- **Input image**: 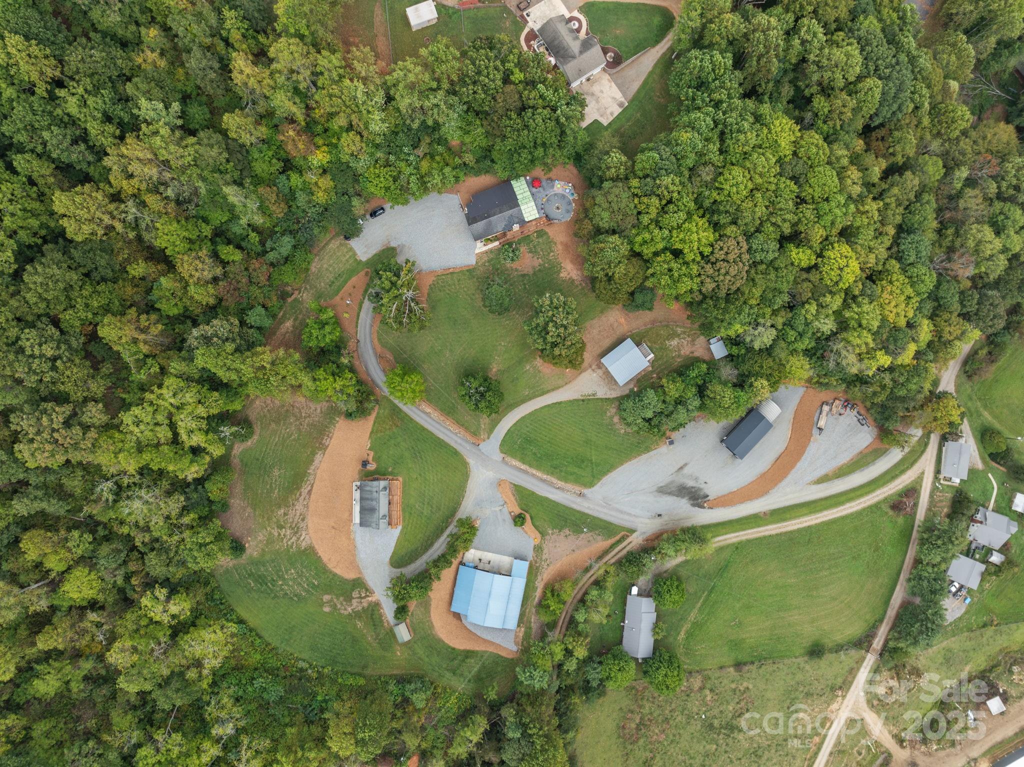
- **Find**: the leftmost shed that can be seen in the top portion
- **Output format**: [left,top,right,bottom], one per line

[406,0,438,29]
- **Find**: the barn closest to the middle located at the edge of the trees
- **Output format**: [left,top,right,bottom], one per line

[601,338,649,386]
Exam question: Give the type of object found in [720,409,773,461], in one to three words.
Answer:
building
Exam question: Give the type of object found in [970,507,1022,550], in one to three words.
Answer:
house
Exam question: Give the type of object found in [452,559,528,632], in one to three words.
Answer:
building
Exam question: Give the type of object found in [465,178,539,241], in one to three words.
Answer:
house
